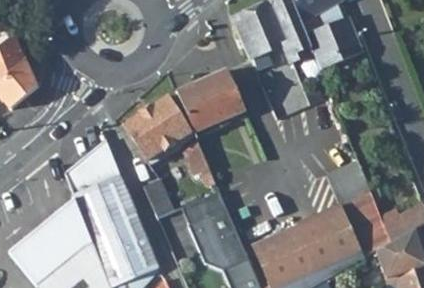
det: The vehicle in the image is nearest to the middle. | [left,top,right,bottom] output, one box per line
[170,162,184,184]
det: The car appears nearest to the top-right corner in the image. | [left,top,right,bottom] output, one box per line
[316,106,332,128]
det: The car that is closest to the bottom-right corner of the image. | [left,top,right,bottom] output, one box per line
[330,146,346,167]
